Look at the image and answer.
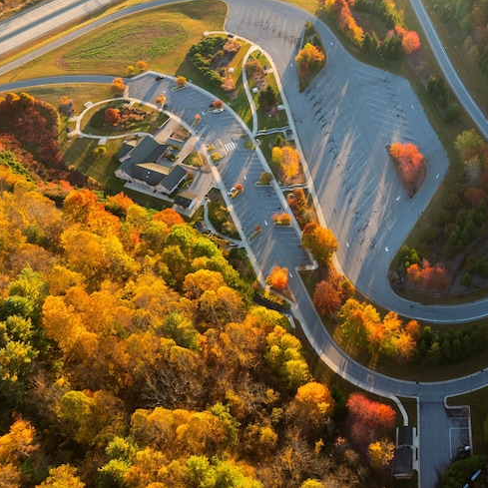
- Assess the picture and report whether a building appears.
Yes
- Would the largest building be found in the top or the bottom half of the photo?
top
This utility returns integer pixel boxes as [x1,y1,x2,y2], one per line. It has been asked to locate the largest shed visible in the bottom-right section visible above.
[392,438,414,457]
